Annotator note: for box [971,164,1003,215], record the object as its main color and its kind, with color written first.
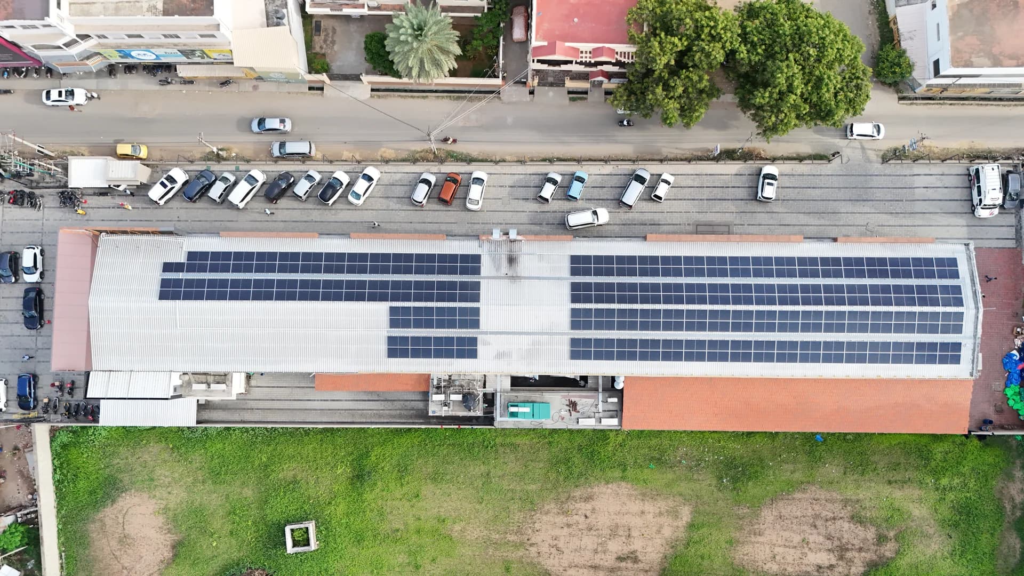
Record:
white van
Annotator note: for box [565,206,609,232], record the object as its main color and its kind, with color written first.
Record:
white car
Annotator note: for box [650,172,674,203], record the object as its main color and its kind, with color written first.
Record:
white car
